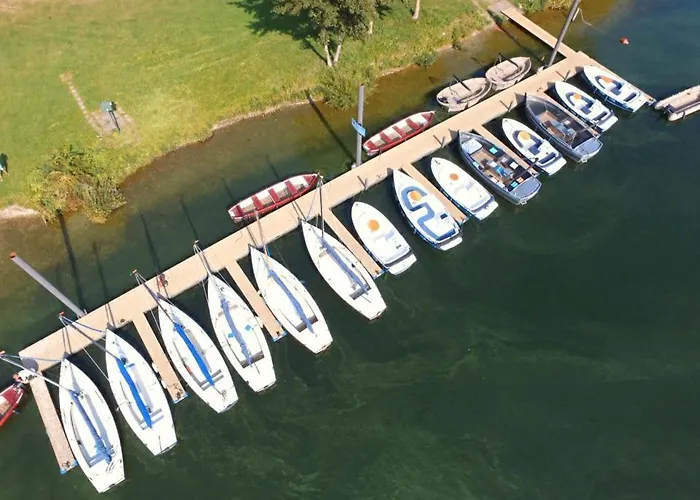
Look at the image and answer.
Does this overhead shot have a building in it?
No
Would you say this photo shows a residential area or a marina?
marina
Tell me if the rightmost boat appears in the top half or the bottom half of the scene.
top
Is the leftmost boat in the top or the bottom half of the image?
bottom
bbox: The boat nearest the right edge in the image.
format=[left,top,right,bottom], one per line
[653,88,700,120]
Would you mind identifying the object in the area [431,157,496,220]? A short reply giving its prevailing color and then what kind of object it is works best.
white boat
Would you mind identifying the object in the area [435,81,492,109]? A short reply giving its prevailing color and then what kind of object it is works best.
white boat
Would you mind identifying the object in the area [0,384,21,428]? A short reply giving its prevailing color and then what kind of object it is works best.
red boat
